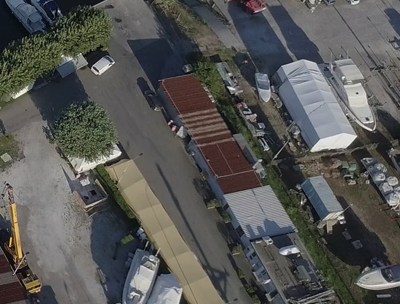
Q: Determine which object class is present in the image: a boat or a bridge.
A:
boat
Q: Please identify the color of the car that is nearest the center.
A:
black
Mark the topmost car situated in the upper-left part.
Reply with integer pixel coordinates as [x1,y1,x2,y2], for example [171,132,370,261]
[89,57,116,76]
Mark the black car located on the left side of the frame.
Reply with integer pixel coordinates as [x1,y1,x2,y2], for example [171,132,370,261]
[141,88,163,111]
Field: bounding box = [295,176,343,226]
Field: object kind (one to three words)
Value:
shed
